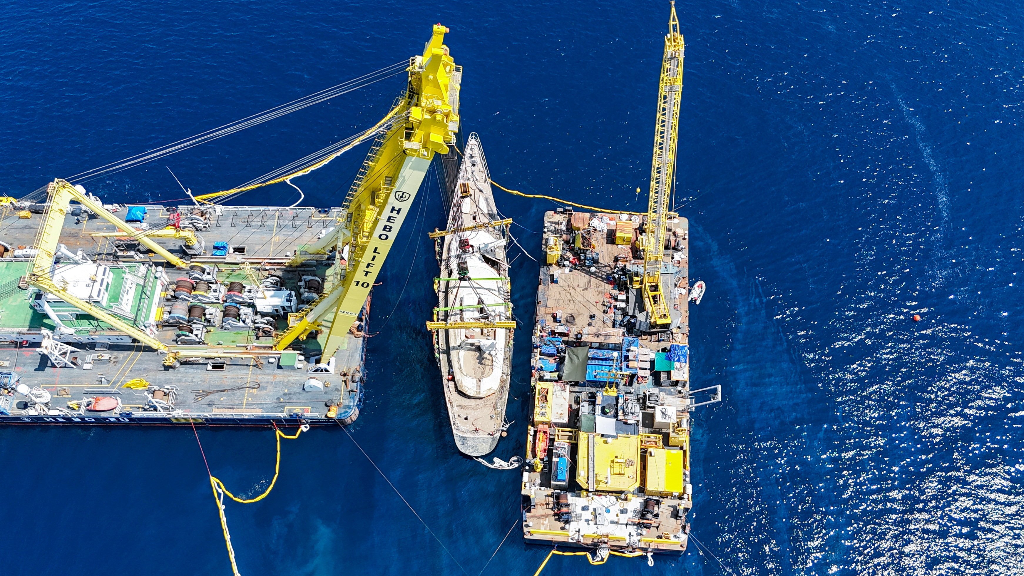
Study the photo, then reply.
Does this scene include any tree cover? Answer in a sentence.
No, the picture contains no tree cover.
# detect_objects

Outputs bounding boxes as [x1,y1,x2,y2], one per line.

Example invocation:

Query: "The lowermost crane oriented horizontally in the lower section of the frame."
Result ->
[156,349,264,369]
